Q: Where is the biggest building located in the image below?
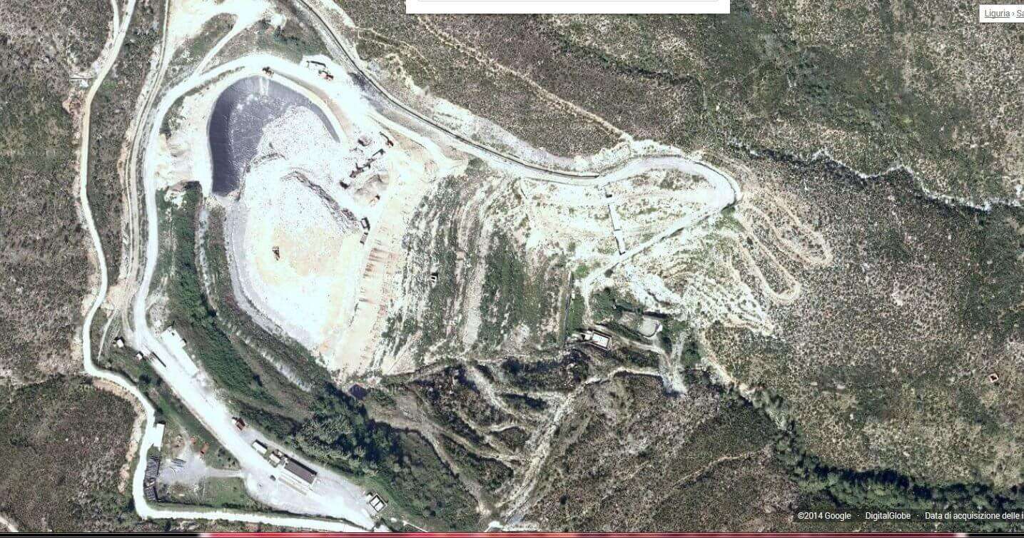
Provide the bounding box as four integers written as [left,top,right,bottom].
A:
[281,460,317,487]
